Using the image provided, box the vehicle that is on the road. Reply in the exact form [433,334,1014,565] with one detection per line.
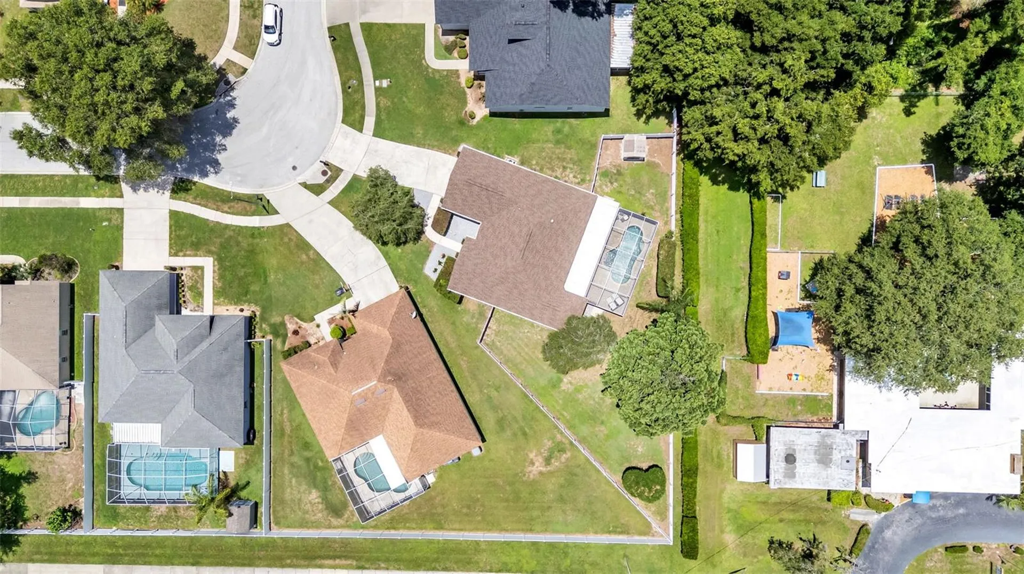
[262,1,284,46]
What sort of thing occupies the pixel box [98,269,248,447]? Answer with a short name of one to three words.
house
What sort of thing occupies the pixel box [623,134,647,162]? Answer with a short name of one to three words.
shed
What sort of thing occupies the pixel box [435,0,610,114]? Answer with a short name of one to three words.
house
